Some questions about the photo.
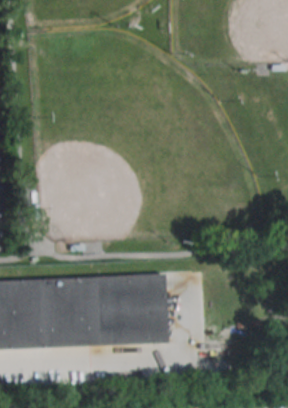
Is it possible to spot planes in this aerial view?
No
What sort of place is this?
sports ground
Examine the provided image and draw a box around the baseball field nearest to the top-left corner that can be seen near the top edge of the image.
[34,0,144,26]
